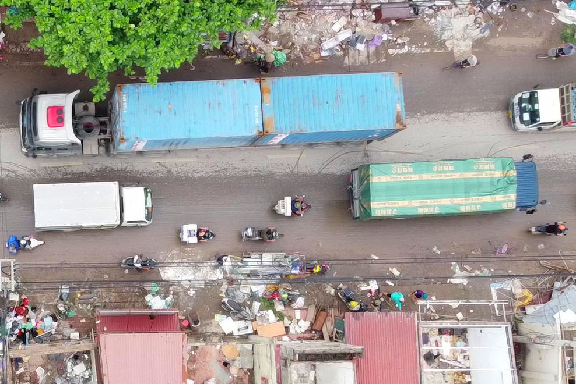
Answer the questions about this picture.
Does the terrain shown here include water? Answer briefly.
No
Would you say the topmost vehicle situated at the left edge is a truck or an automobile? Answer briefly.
truck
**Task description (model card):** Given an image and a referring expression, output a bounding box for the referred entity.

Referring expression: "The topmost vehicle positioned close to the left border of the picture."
[16,81,157,154]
